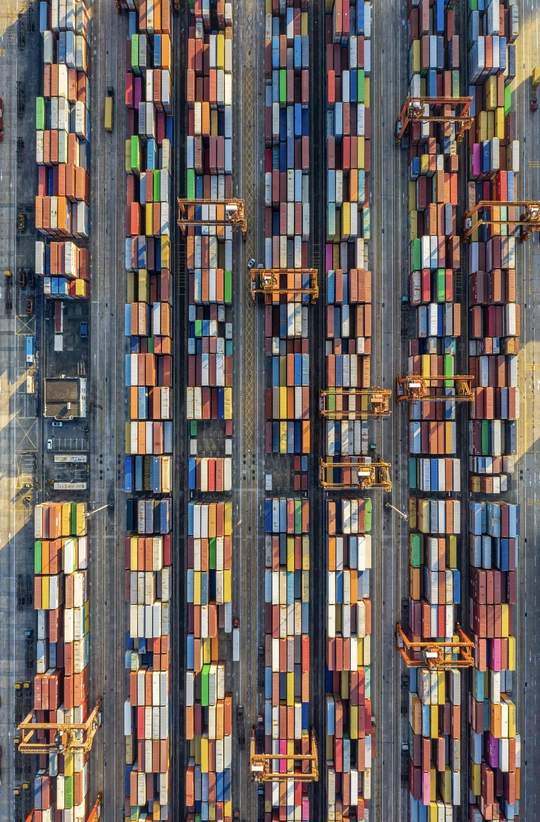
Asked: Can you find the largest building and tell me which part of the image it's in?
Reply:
left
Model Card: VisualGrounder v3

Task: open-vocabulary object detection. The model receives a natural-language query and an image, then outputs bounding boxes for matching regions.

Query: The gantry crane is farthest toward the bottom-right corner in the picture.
[394,621,477,669]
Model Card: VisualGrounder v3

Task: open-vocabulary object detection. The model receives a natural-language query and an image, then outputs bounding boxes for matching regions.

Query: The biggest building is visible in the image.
[42,375,87,422]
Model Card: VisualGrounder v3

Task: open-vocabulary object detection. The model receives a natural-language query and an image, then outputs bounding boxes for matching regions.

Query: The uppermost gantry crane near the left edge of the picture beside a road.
[14,694,105,751]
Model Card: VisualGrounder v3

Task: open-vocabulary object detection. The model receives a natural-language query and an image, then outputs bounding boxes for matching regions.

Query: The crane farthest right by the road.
[461,199,540,244]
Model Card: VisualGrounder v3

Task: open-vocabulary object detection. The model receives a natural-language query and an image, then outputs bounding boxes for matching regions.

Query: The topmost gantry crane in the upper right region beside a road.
[394,95,477,149]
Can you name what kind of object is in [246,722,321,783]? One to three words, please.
container crane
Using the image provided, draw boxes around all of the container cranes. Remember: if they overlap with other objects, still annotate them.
[315,390,389,417]
[14,694,105,751]
[394,621,477,669]
[315,458,392,490]
[247,267,320,306]
[394,95,477,149]
[394,374,477,403]
[176,197,252,242]
[461,199,540,244]
[246,722,321,783]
